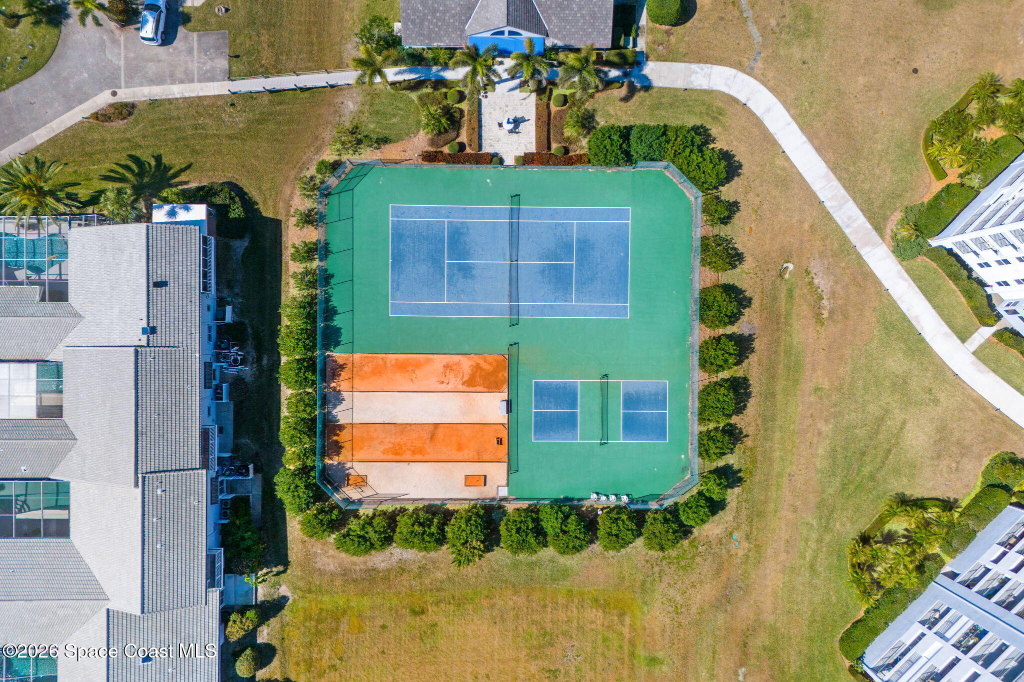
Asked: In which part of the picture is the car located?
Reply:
top left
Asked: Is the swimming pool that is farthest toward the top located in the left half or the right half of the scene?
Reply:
left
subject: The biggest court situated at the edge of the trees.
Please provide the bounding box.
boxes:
[326,168,692,500]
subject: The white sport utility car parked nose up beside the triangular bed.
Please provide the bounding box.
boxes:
[140,0,168,45]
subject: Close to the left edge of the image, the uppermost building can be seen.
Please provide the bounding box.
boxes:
[0,204,216,361]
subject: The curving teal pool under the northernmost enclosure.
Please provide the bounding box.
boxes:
[0,234,68,280]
